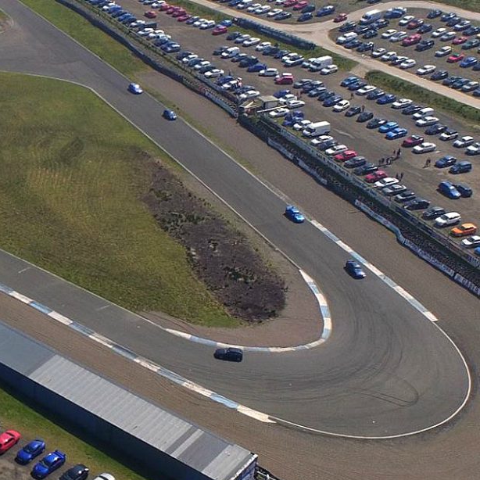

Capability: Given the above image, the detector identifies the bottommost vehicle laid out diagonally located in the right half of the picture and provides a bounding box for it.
[340,258,369,280]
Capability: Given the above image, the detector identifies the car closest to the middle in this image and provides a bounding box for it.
[282,204,307,222]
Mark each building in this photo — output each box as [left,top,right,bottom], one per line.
[246,95,280,125]
[0,322,259,480]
